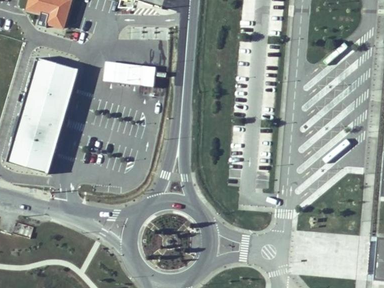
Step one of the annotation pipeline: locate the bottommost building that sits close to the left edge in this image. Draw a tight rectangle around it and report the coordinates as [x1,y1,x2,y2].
[8,58,78,174]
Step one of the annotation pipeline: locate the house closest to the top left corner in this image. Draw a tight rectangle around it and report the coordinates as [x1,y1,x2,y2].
[26,0,72,29]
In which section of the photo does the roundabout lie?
bottom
